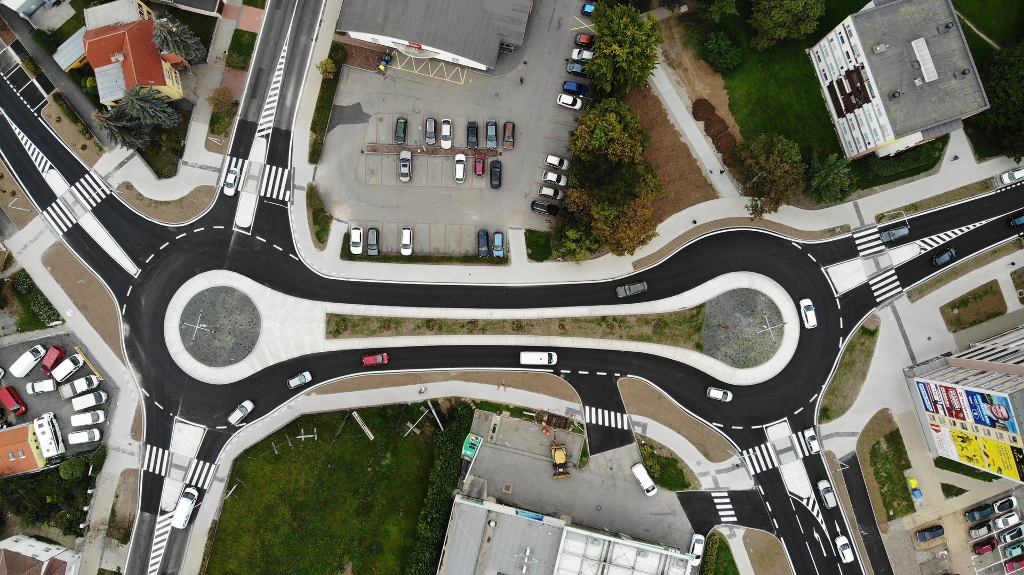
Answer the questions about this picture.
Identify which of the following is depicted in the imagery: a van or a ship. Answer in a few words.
van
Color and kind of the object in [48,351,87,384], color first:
white van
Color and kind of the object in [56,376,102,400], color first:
white truck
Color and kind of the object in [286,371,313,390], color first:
white car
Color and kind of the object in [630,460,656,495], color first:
white vehicle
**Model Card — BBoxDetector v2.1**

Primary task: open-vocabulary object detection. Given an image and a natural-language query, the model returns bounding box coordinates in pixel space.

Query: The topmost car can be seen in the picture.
[575,2,603,19]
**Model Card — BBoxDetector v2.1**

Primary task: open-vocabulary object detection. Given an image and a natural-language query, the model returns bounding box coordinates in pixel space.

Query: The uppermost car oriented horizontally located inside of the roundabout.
[616,281,647,298]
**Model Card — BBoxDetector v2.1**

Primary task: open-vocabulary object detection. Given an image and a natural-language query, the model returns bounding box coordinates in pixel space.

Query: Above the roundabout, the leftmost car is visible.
[223,167,241,197]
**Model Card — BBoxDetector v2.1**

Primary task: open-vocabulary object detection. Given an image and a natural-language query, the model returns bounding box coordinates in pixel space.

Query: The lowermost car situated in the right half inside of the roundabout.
[706,386,732,403]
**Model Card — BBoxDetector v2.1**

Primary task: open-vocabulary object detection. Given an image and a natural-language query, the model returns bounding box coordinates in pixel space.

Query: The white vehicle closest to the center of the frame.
[520,351,556,366]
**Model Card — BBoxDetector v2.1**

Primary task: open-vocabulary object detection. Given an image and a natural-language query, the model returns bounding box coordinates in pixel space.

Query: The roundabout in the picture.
[121,226,842,429]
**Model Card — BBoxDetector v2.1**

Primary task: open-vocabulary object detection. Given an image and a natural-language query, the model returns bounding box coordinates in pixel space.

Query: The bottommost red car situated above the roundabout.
[473,154,486,177]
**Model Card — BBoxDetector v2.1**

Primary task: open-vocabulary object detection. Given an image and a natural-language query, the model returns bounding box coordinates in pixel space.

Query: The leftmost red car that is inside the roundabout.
[362,352,389,366]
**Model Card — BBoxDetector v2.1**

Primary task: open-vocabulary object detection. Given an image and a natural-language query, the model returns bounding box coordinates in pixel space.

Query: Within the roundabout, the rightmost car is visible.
[799,299,816,328]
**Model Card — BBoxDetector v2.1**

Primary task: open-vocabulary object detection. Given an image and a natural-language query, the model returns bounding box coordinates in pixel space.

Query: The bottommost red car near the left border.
[0,384,26,416]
